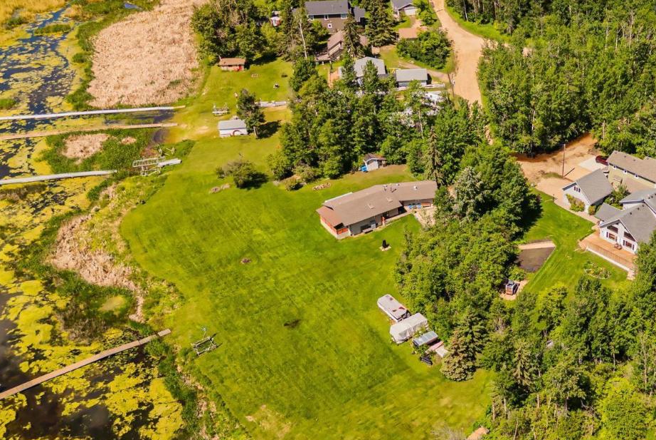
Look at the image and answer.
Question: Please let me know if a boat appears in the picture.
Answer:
Yes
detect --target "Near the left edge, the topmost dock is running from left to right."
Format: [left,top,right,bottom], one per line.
[0,107,173,121]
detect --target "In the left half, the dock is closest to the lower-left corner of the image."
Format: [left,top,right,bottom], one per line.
[0,332,158,399]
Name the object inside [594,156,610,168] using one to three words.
vehicle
